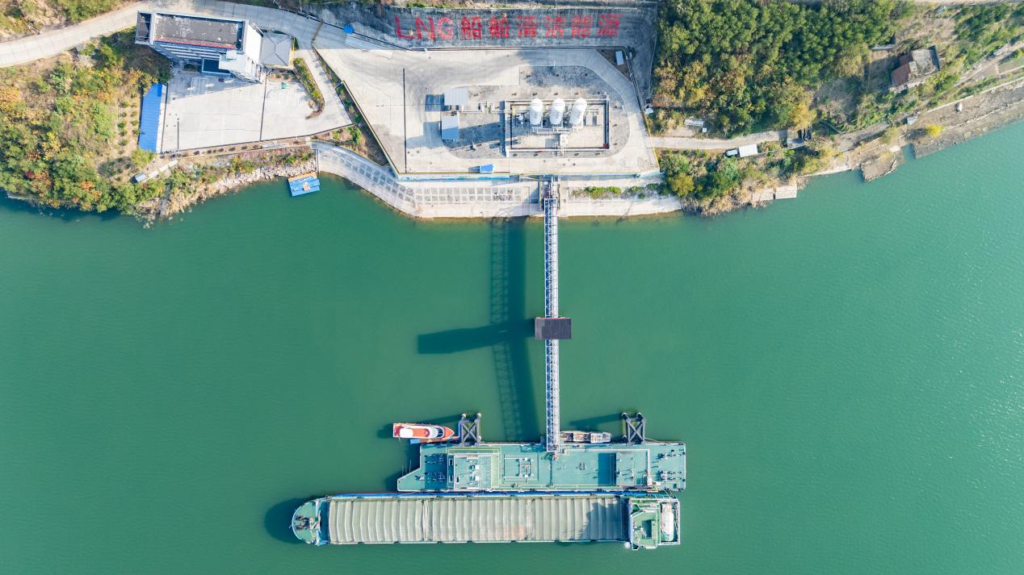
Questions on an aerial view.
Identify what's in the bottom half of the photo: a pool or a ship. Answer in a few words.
ship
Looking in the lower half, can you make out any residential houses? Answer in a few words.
No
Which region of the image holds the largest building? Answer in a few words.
top left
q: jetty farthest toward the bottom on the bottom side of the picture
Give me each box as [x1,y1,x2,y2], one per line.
[397,440,687,493]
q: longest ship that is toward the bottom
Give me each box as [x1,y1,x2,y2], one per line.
[290,492,681,552]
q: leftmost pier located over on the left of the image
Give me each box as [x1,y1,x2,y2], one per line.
[288,172,320,196]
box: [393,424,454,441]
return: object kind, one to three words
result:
boat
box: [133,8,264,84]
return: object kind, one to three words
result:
building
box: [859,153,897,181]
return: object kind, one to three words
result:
pier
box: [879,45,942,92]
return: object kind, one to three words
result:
house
